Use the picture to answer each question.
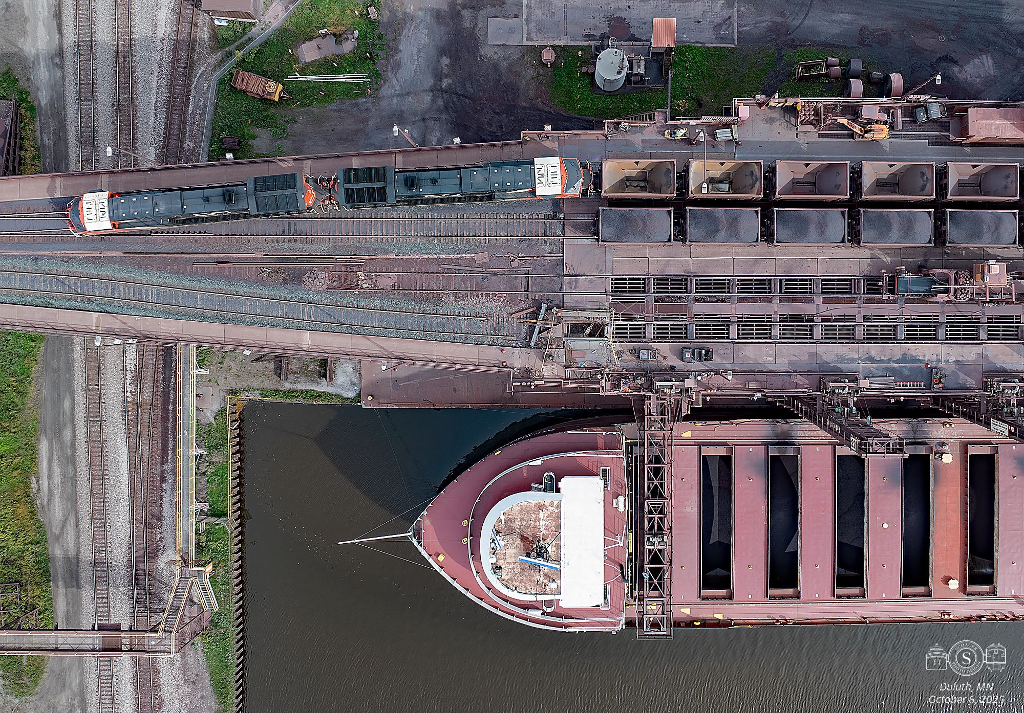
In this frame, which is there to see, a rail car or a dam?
rail car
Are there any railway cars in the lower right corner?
No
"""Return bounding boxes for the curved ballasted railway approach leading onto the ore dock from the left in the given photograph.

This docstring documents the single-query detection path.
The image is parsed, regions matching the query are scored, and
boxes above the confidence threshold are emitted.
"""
[0,134,562,385]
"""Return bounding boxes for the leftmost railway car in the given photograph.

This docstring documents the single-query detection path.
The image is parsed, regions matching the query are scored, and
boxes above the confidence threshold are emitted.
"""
[60,172,338,241]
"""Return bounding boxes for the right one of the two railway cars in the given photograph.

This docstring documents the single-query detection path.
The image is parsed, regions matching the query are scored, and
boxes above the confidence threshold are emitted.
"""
[328,158,600,216]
